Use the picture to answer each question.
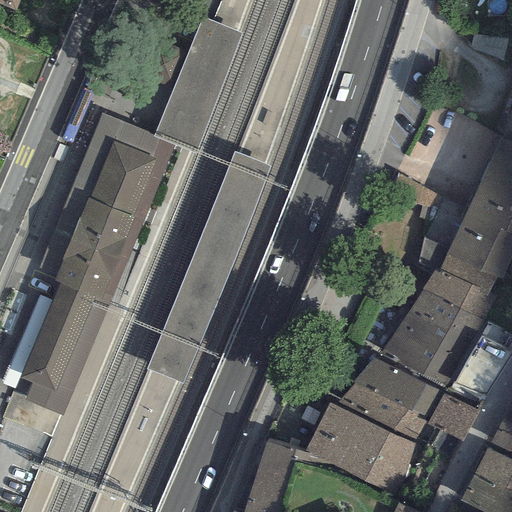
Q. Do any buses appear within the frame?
Yes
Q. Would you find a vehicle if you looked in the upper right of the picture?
Yes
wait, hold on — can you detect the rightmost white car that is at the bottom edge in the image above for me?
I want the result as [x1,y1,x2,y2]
[200,466,216,490]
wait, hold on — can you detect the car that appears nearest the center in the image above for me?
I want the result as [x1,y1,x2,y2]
[270,252,284,275]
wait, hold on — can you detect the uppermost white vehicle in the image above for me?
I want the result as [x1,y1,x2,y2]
[334,72,354,102]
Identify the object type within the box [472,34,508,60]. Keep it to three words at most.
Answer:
building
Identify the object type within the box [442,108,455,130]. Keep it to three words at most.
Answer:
vehicle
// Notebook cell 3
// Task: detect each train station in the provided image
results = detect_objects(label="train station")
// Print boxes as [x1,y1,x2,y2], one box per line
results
[22,112,174,414]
